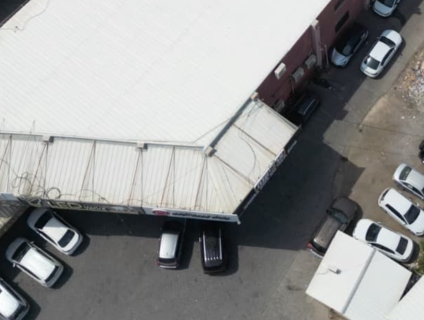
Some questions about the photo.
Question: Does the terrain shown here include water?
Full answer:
No, there's no water in this view.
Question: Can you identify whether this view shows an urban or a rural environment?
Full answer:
It looks urban.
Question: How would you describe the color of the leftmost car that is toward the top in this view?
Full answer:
The leftmost car that is toward the top looks black in the image.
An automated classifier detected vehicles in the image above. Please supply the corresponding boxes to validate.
[359,26,406,81]
[282,79,332,133]
[348,214,421,268]
[388,157,424,206]
[372,181,424,243]
[0,273,35,320]
[196,227,229,290]
[25,213,88,260]
[152,222,189,280]
[331,17,373,71]
[373,0,403,18]
[307,191,362,261]
[4,234,66,292]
